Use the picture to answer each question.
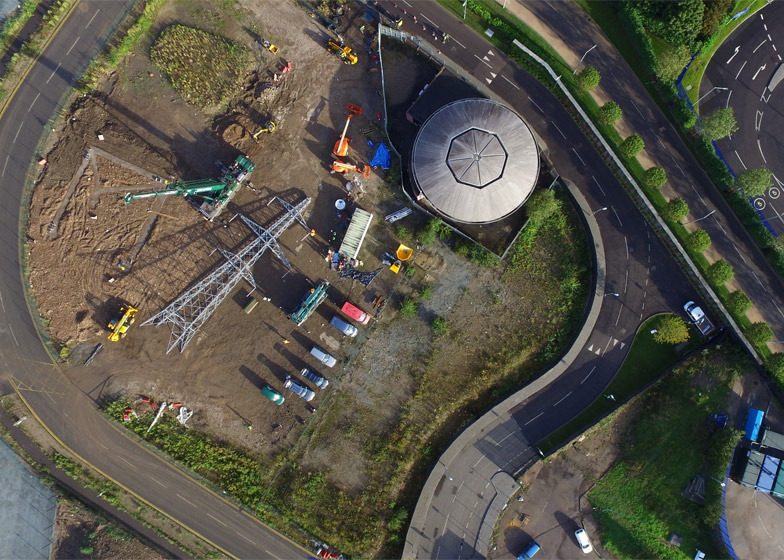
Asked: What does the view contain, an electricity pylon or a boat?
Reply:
electricity pylon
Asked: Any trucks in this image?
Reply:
Yes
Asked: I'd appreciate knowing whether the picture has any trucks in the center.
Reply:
Yes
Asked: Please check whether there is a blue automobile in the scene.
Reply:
Yes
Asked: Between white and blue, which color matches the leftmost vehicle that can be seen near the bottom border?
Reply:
blue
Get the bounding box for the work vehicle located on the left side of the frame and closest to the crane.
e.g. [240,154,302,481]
[254,121,277,139]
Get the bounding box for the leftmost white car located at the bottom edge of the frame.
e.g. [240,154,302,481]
[573,527,593,555]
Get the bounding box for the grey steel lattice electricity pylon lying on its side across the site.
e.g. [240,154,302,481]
[135,195,312,356]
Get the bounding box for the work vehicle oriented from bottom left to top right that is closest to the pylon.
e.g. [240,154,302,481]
[109,301,138,339]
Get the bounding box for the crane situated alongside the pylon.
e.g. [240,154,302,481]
[120,159,258,232]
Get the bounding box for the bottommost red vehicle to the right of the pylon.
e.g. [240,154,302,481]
[341,301,370,323]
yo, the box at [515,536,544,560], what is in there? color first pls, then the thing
blue vehicle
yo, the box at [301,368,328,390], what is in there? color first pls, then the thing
blue car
